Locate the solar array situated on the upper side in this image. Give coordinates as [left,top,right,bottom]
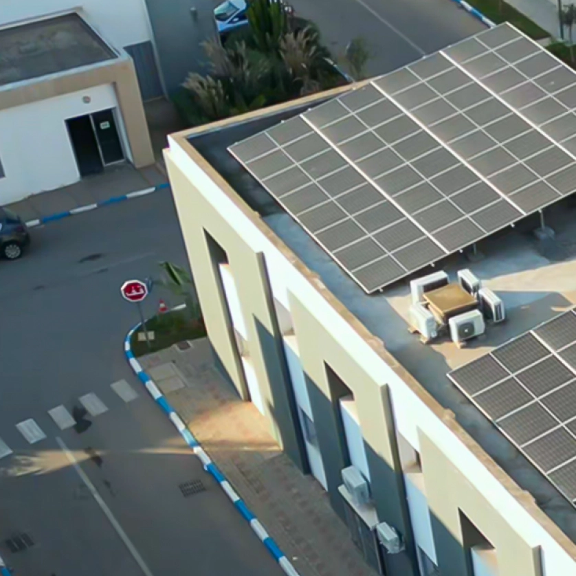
[230,24,576,292]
